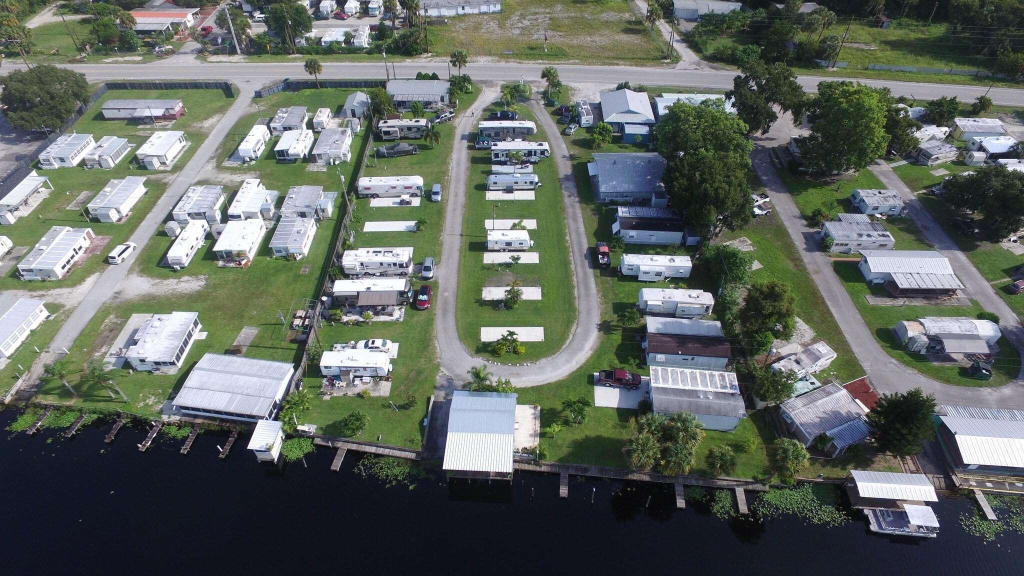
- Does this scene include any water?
Yes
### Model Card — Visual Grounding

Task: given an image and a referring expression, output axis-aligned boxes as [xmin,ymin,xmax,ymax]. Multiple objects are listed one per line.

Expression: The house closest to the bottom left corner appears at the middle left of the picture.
[0,296,50,361]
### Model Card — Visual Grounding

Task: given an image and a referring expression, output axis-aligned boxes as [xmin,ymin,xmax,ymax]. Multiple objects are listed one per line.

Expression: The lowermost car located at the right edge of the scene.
[1003,275,1024,299]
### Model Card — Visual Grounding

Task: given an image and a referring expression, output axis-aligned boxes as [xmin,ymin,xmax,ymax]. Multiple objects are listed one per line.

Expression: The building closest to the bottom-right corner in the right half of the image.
[934,405,1024,477]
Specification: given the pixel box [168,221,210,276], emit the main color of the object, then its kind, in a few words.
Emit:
white trailer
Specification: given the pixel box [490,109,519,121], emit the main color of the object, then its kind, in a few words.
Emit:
black vehicle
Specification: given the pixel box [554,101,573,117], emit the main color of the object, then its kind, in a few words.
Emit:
black car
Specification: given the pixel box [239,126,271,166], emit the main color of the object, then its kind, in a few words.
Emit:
white trailer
